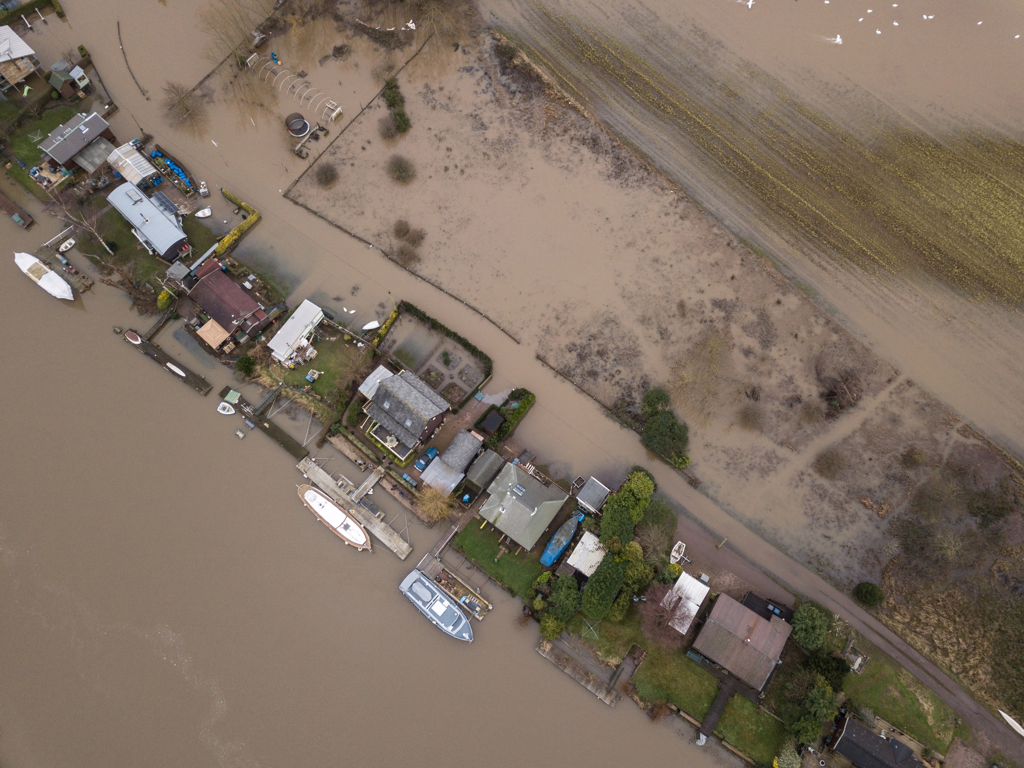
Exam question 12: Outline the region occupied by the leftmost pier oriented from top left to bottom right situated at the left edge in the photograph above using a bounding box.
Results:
[35,249,95,289]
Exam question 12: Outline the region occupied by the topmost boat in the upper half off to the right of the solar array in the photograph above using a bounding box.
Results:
[194,206,211,218]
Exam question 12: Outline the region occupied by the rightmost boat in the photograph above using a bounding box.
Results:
[999,710,1024,736]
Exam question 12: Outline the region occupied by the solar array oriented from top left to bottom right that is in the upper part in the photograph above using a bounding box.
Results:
[152,191,186,216]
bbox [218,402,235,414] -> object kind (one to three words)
boat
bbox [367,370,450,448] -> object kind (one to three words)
house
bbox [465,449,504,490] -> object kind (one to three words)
shed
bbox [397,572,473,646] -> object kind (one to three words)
boat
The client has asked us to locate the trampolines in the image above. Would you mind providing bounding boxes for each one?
[287,115,310,139]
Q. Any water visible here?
Yes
